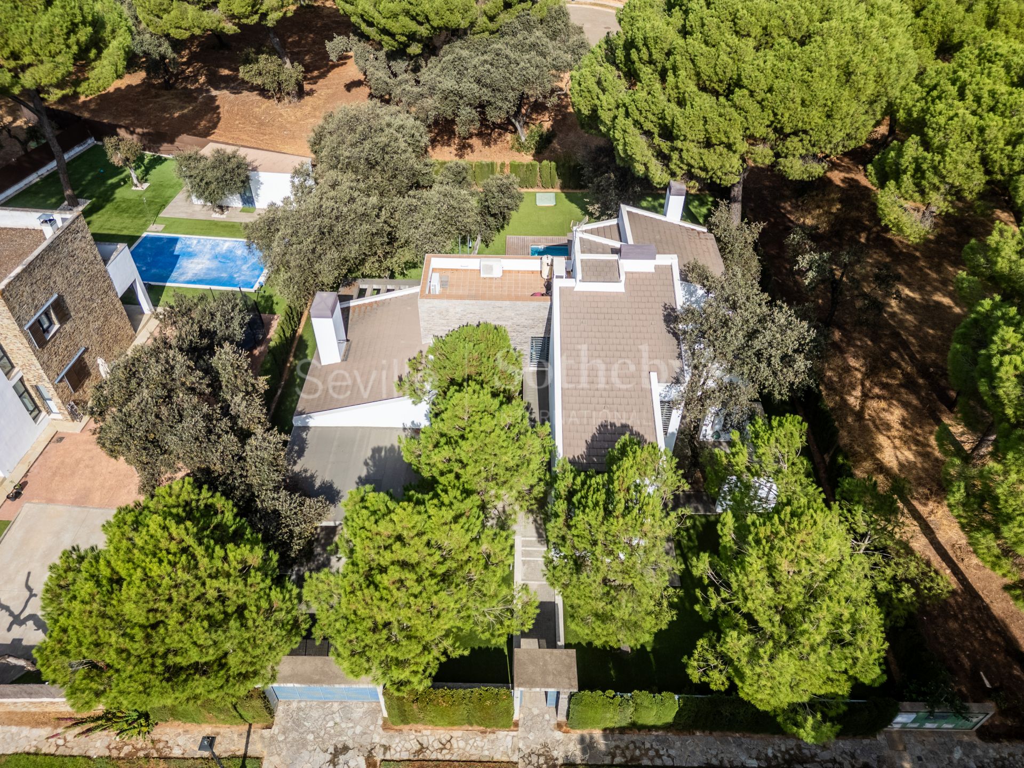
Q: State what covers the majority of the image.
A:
trees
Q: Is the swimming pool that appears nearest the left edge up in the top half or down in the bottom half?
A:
top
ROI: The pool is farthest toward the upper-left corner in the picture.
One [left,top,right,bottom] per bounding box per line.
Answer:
[138,232,257,291]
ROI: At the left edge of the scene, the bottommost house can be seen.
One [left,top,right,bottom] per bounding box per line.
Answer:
[0,198,162,535]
